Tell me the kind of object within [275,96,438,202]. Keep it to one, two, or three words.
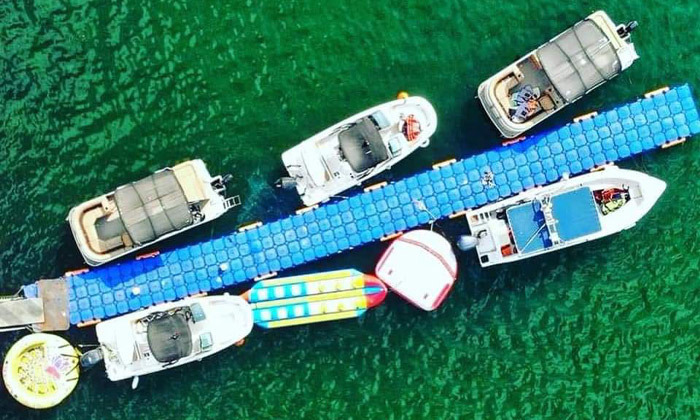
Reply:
boat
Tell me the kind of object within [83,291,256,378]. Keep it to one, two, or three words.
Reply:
boat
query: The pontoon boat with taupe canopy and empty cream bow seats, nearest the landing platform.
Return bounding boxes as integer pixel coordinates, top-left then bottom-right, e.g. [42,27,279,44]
[71,157,239,262]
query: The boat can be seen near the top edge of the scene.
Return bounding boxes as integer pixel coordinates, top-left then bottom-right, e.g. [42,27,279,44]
[479,17,641,135]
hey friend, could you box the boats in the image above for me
[454,166,667,267]
[83,291,256,378]
[275,96,438,202]
[71,157,239,262]
[479,17,641,135]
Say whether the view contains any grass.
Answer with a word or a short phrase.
No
